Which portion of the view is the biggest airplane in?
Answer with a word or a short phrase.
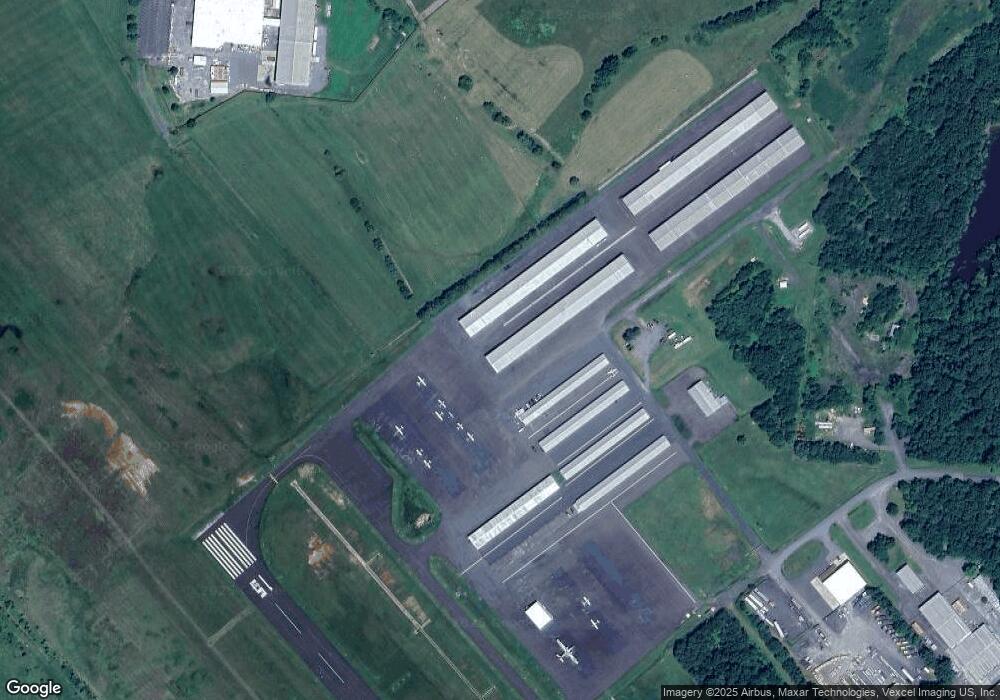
bottom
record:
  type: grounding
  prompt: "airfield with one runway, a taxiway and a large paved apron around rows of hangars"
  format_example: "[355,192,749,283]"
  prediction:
[192,80,811,700]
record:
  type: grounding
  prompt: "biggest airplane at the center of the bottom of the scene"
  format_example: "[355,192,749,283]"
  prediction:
[557,639,579,664]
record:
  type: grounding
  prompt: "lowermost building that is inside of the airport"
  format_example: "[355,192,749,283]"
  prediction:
[525,601,552,629]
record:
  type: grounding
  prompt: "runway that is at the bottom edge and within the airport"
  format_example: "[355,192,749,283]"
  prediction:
[192,513,381,700]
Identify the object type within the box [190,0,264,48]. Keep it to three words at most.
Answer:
building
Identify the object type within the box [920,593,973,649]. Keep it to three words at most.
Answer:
building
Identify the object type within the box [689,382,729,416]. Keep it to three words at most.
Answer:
hangar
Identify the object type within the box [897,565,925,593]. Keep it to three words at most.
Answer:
shed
